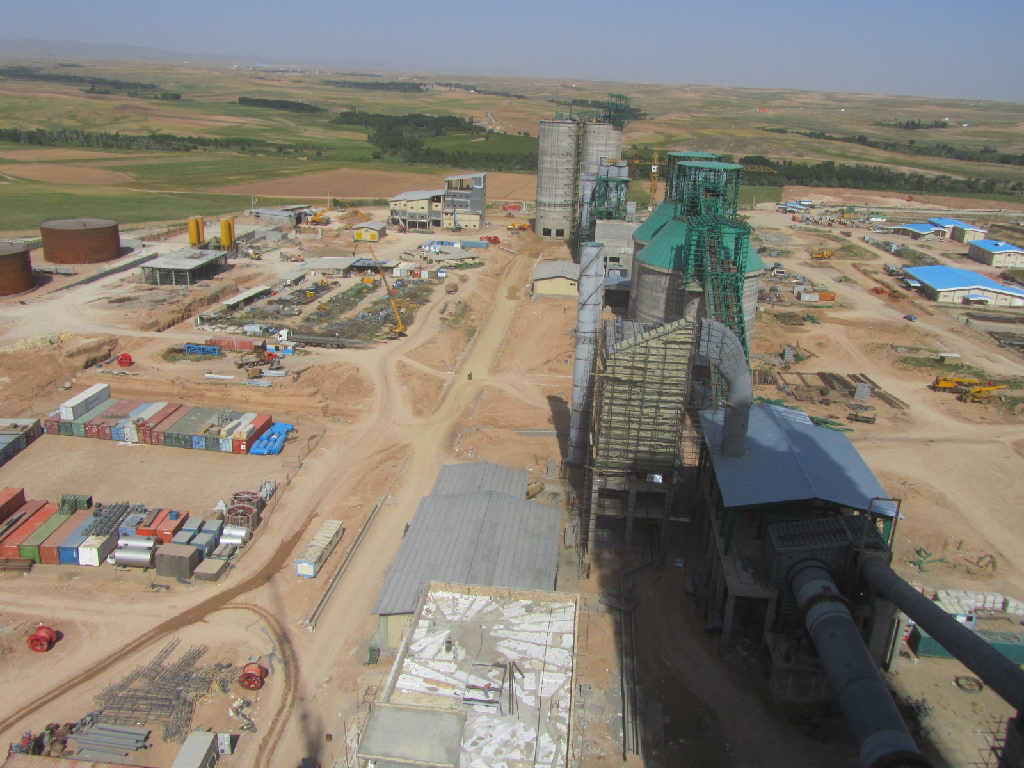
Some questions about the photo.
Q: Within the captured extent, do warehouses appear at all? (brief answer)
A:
Yes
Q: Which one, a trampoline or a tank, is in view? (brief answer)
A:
tank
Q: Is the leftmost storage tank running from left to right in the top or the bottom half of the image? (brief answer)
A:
top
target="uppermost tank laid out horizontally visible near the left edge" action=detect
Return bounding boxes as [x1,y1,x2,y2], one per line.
[11,212,118,263]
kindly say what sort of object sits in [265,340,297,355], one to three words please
building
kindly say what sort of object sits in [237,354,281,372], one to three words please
vehicle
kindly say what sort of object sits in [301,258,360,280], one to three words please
building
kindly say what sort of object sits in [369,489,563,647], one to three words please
warehouse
